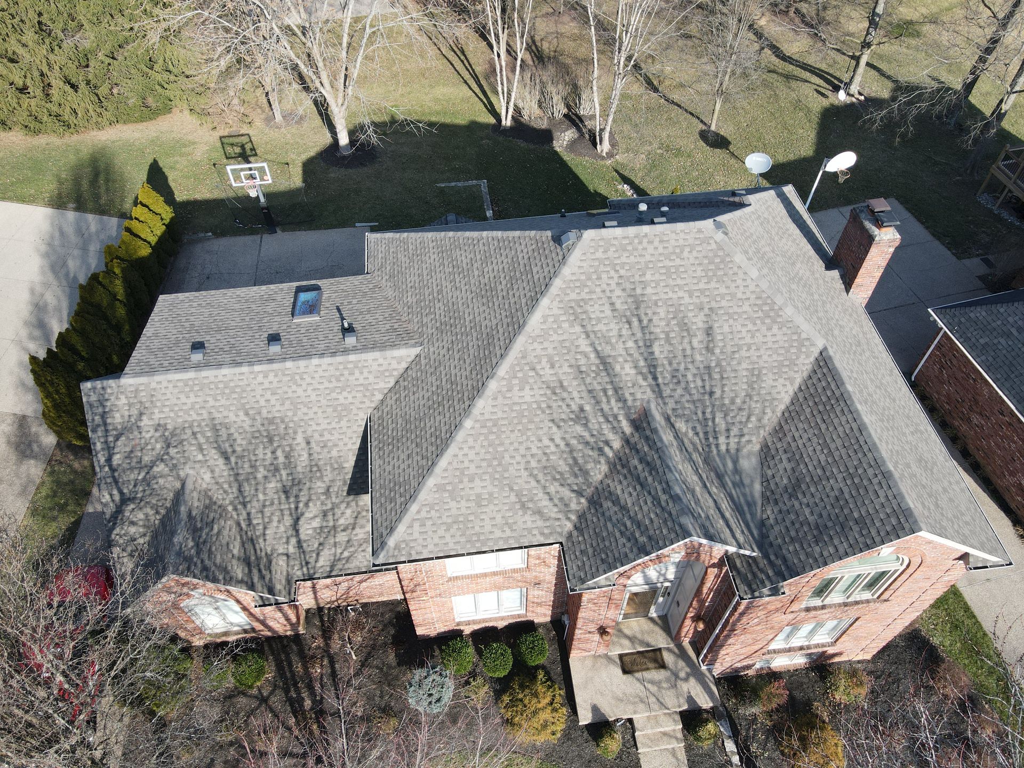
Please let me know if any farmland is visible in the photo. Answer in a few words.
No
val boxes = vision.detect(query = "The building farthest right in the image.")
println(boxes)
[909,286,1024,513]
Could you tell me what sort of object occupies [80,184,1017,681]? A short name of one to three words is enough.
house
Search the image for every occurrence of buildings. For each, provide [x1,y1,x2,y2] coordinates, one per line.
[80,184,1017,681]
[909,286,1024,513]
